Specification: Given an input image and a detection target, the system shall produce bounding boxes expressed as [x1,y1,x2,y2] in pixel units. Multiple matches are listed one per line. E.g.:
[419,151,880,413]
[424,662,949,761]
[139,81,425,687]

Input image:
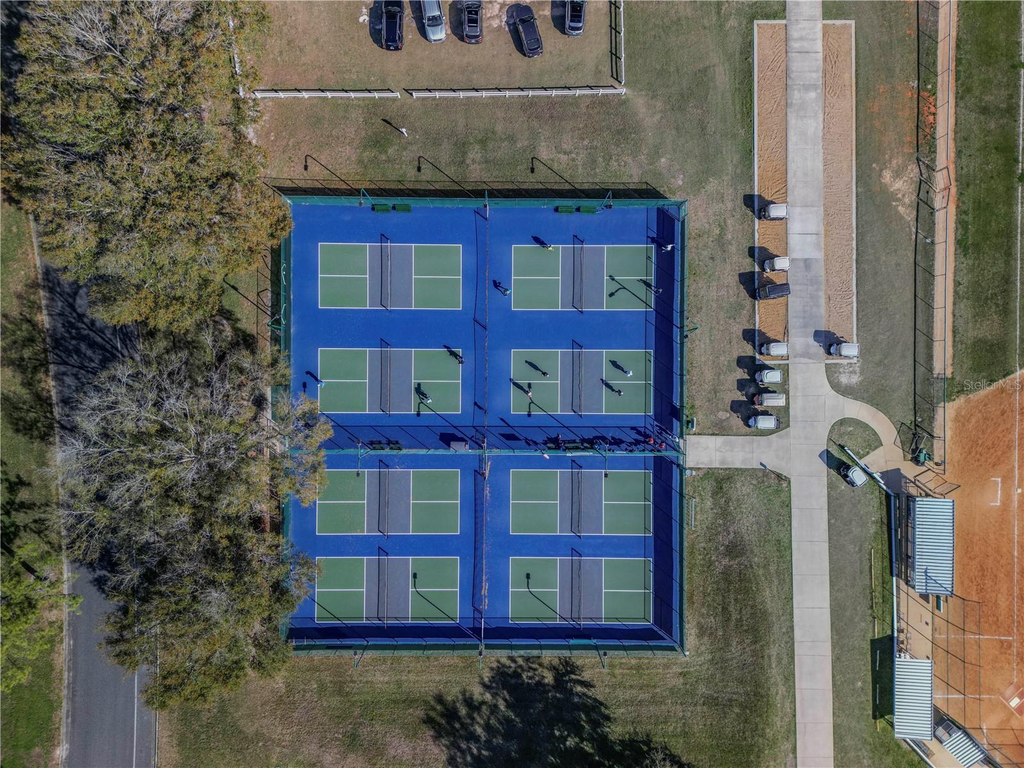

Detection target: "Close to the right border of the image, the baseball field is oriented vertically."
[933,0,1024,768]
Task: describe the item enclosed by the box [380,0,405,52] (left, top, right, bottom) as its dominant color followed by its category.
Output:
black car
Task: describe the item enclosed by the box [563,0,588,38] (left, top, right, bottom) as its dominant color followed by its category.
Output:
black car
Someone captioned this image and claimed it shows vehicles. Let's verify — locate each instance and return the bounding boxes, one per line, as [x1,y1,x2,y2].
[563,0,588,38]
[826,343,859,357]
[836,459,869,487]
[418,0,445,45]
[752,393,786,406]
[757,205,788,222]
[760,256,792,273]
[757,283,792,301]
[380,0,405,52]
[757,343,788,356]
[514,4,544,59]
[751,370,782,383]
[745,415,778,429]
[461,0,486,45]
